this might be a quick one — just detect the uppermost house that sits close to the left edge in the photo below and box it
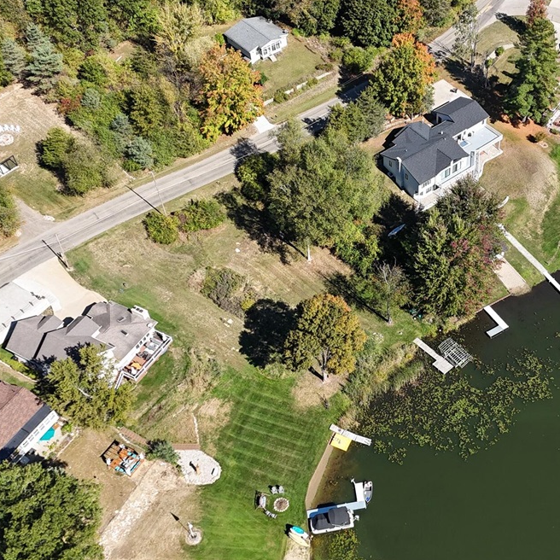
[6,301,175,389]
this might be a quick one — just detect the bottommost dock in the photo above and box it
[306,481,367,516]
